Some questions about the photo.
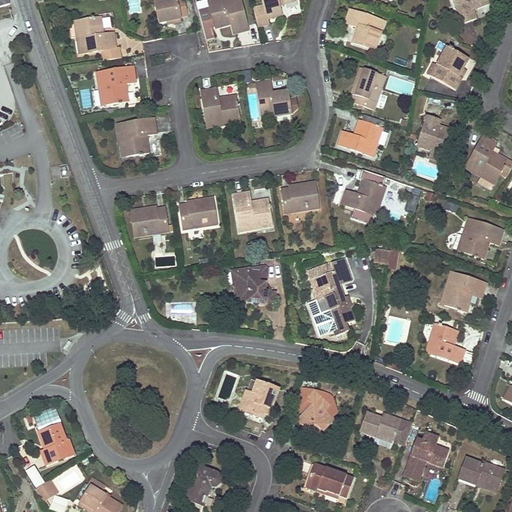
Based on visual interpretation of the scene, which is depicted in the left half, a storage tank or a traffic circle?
traffic circle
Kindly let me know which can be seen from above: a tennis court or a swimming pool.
swimming pool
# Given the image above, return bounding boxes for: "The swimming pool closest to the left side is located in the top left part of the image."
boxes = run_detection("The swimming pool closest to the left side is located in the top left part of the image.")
[80,88,92,110]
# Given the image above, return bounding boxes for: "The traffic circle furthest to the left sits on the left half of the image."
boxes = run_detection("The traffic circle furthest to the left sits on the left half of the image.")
[0,212,76,298]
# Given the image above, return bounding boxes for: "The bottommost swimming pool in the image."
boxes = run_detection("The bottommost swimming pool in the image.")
[424,478,442,504]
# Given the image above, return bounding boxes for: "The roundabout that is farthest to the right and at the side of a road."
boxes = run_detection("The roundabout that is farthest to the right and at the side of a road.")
[70,328,203,473]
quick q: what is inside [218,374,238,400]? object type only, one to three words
swimming pool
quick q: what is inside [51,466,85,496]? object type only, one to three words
building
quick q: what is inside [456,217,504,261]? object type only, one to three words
house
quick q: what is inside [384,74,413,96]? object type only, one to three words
swimming pool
